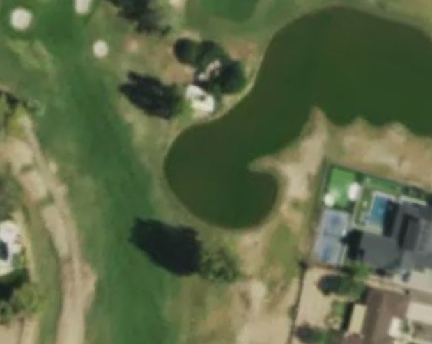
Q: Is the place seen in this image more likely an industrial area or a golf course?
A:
golf course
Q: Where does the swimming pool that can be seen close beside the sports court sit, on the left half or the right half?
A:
right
